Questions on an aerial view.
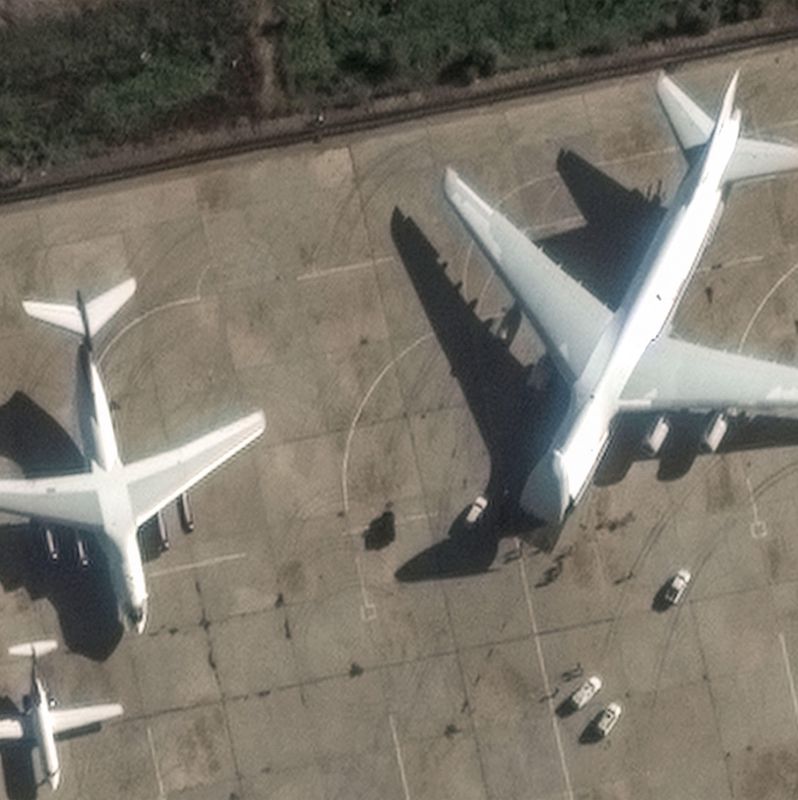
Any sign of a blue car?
No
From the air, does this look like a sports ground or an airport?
airport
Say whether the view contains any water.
No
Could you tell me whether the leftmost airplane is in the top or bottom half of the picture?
bottom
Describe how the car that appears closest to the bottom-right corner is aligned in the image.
on a diagonal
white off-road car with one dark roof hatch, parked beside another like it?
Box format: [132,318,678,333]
[594,702,623,736]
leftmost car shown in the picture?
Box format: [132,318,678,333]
[464,495,488,522]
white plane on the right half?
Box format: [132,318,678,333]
[441,72,798,555]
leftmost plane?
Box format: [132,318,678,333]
[0,641,122,788]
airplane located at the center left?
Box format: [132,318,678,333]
[0,280,264,631]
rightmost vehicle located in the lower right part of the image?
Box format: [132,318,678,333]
[664,569,693,605]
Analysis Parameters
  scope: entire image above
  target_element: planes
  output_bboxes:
[441,72,798,555]
[0,280,264,631]
[0,641,122,788]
